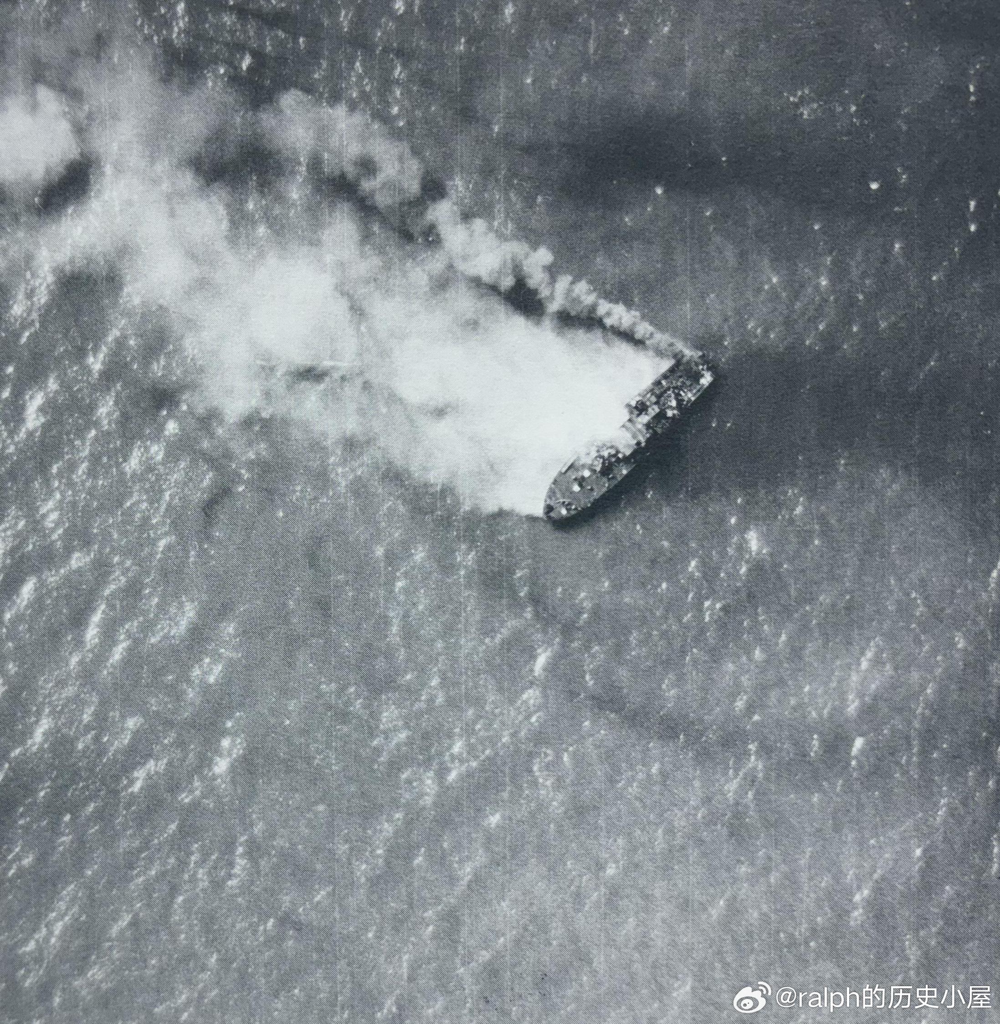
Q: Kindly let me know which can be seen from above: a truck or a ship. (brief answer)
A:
ship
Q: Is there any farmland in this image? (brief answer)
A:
No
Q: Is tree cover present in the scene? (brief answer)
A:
No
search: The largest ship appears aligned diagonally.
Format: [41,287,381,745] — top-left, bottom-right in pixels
[544,349,716,525]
